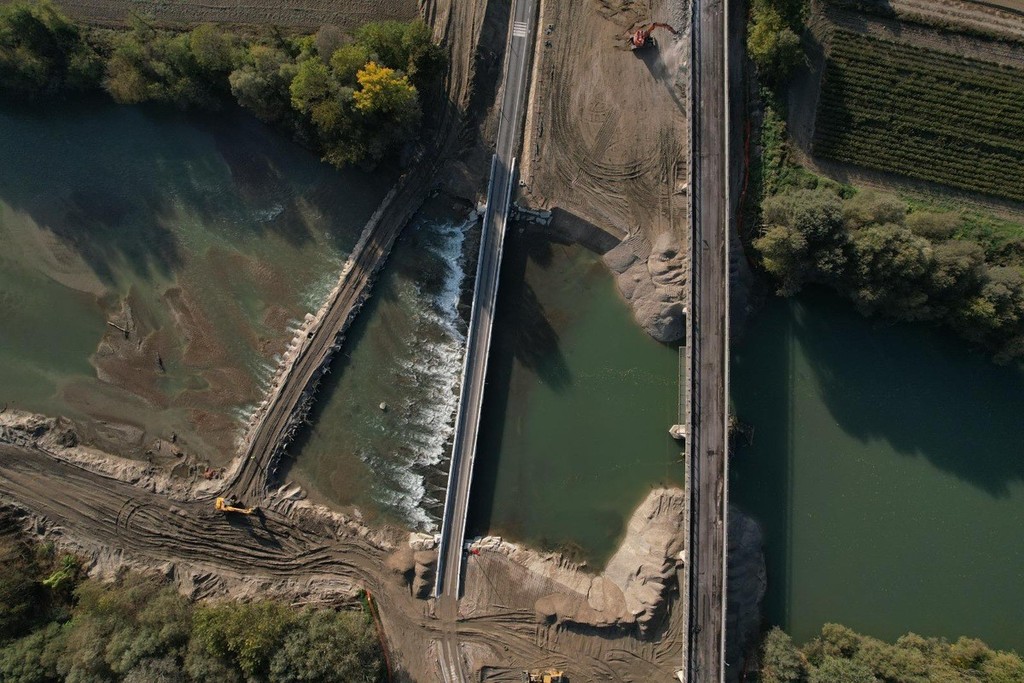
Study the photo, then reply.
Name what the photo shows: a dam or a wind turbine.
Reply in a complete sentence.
Looking from above, you can make out a dam.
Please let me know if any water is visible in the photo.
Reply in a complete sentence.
Yes, the picture does contain water.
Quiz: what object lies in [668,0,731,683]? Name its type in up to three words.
bridge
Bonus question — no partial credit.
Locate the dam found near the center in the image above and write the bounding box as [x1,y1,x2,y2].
[424,208,485,537]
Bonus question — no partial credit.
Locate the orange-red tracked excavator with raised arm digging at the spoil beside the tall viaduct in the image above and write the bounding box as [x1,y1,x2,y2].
[629,30,680,50]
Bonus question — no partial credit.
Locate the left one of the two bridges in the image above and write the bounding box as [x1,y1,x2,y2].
[435,153,515,603]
